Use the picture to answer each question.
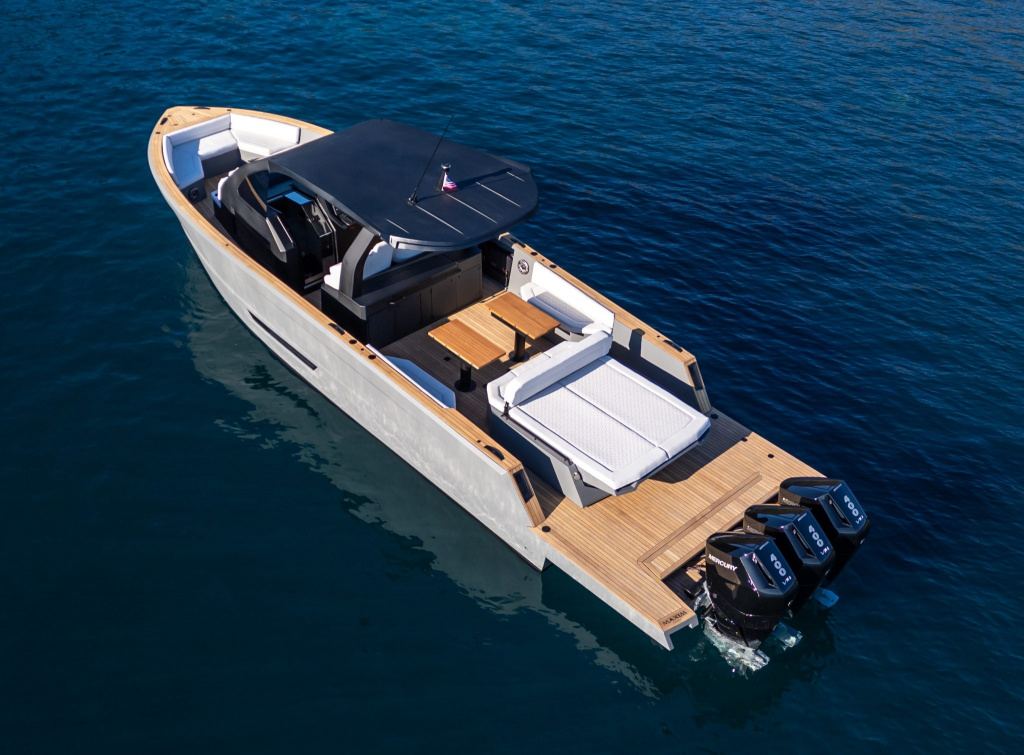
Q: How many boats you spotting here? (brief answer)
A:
one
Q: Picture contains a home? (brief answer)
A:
No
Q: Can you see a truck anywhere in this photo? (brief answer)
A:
No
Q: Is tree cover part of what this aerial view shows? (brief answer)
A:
No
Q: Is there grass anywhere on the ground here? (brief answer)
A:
No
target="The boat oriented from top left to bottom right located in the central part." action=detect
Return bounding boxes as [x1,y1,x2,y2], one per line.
[148,106,824,651]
